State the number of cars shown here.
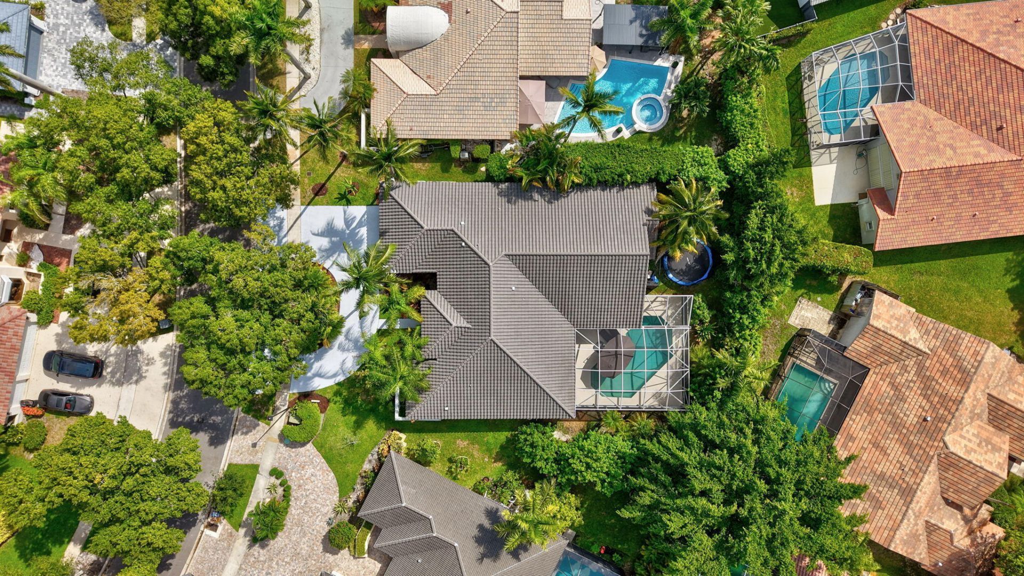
2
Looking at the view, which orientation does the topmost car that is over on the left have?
from left to right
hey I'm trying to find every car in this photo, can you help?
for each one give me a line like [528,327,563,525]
[33,391,94,420]
[37,351,102,381]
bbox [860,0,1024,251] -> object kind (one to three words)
house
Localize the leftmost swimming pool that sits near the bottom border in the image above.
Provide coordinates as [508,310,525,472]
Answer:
[554,547,625,576]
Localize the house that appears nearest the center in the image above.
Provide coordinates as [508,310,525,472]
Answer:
[378,180,659,421]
